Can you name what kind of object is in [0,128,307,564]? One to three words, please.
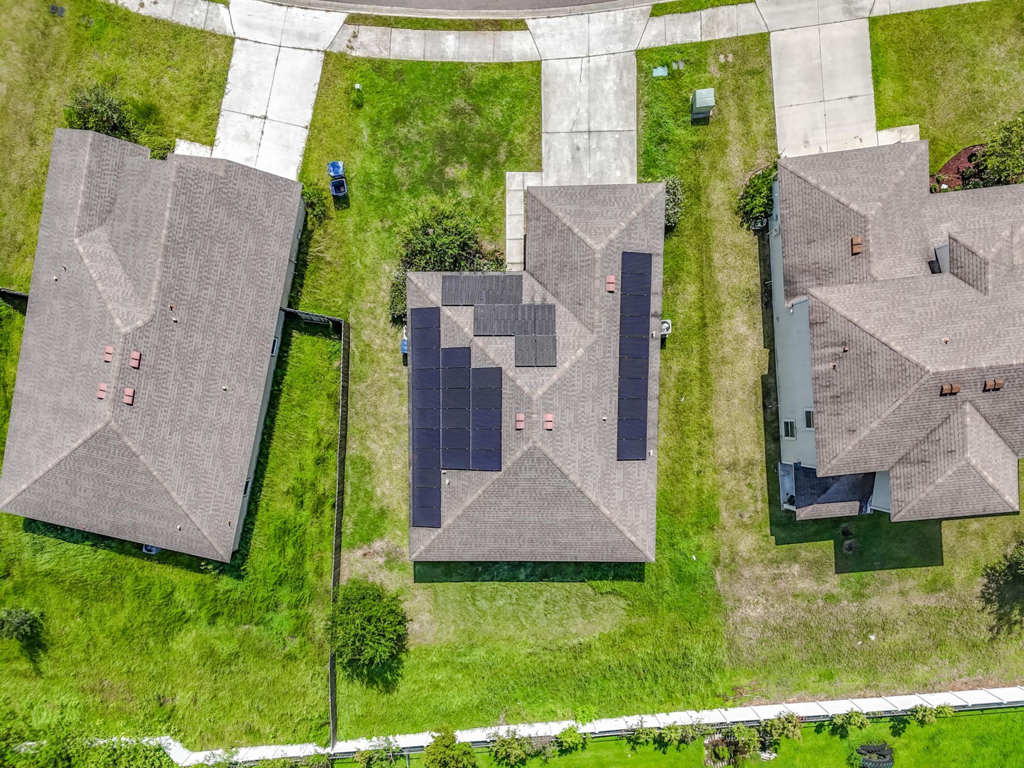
house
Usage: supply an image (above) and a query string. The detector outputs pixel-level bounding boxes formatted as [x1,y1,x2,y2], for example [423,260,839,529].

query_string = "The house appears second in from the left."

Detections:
[405,182,667,563]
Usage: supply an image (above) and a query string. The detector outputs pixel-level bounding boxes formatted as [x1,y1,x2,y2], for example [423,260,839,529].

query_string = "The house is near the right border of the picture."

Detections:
[760,139,1024,523]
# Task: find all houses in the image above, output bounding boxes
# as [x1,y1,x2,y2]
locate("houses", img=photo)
[0,128,307,564]
[405,182,667,563]
[760,139,1024,523]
